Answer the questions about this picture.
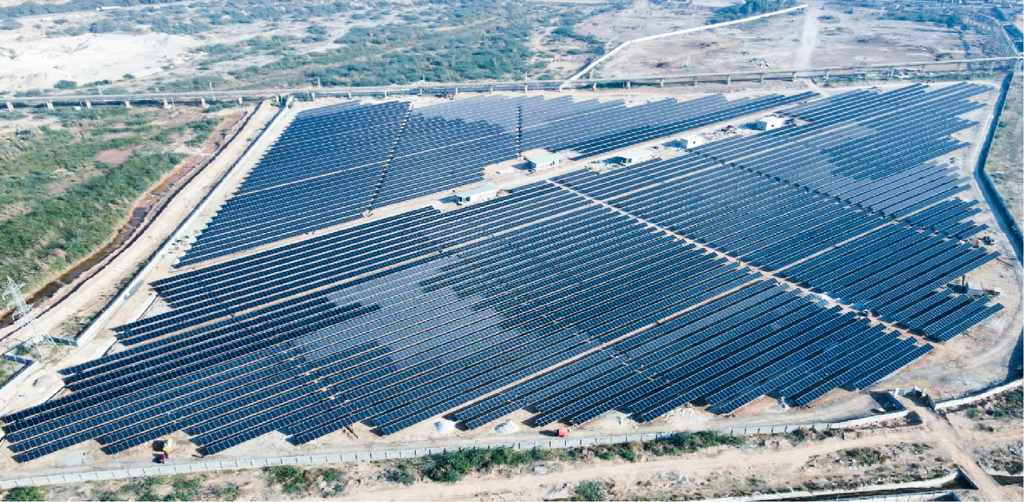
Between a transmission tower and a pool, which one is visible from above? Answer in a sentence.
Looking from above, you can make out a transmission tower.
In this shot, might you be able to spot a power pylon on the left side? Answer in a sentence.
Yes, a power pylon shows up on the left side.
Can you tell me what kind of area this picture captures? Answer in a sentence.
The area seen from above is a solar farm.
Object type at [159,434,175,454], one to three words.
work vehicle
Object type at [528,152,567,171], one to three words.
building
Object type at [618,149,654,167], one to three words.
building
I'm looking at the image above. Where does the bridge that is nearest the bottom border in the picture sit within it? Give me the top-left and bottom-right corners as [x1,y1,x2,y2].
[0,56,1024,112]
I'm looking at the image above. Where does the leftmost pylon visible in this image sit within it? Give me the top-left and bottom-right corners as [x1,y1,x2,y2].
[2,281,51,359]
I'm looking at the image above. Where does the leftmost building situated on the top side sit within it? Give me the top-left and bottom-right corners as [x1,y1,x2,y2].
[454,184,497,206]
